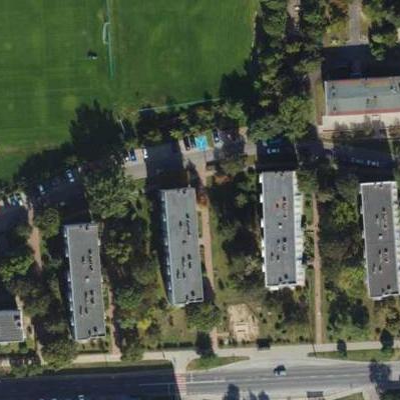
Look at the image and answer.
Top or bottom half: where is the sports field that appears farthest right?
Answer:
top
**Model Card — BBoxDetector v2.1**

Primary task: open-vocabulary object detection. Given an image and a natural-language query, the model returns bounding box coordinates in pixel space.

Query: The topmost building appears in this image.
[322,77,400,134]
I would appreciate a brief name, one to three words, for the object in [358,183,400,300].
building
